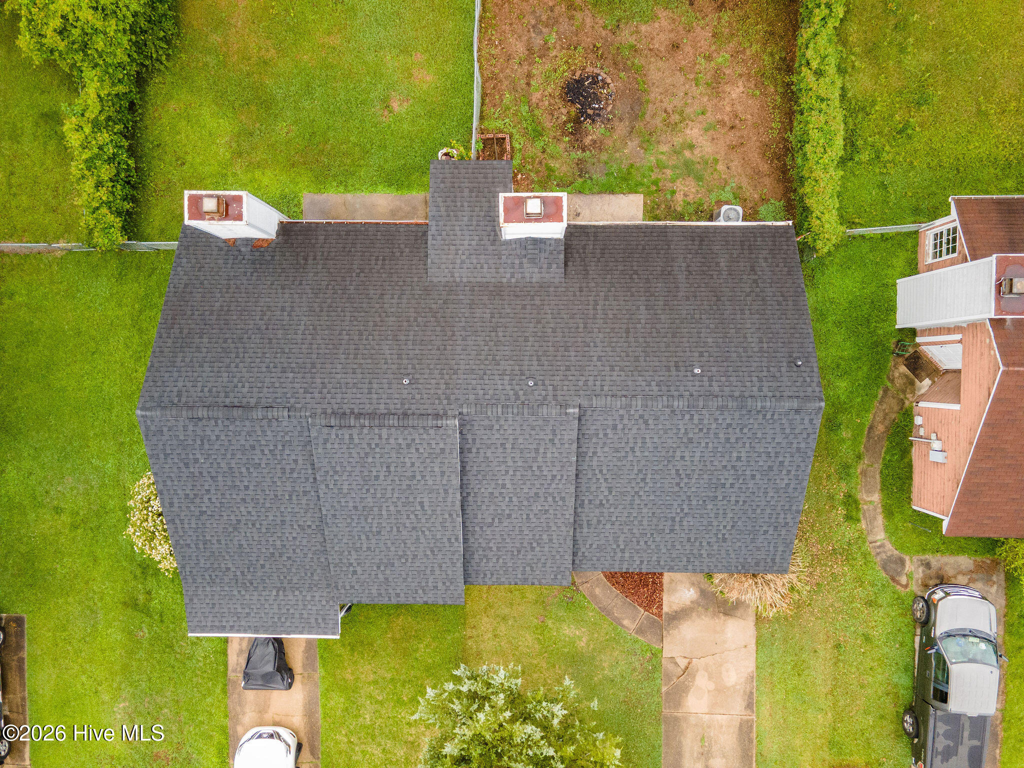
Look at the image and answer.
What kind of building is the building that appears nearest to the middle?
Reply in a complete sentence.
It looks like the building that appears nearest to the middle is a residential house.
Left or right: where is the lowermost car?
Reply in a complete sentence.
The lowermost car appears in the left half of the scene.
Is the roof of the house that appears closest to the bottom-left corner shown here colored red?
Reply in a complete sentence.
No, from above the roof of the house that appears closest to the bottom-left corner looks gray.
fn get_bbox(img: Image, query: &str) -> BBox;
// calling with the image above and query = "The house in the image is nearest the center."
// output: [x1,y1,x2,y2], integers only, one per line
[137,160,823,639]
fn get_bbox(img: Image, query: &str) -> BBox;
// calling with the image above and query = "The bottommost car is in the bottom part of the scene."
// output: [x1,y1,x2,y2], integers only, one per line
[236,727,301,768]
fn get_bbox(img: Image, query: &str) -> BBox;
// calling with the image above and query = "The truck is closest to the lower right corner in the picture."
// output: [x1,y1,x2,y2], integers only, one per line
[907,585,1014,768]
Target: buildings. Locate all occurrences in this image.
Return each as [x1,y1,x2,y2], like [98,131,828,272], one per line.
[137,160,823,639]
[896,194,1024,537]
